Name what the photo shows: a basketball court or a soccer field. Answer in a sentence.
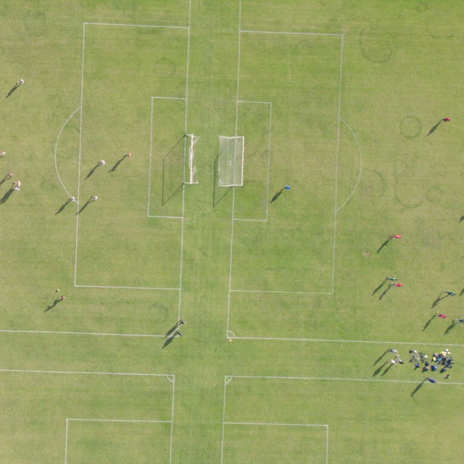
I can see a soccer field in this picture.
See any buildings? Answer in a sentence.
No, the photo shows no building.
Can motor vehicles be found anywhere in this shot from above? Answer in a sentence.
No, I can't see a single motor vehicle in this photo.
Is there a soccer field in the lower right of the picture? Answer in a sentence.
Yes, a soccer field is visible in the lower right of the picture.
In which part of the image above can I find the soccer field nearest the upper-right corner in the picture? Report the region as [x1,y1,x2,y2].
[227,0,464,345]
